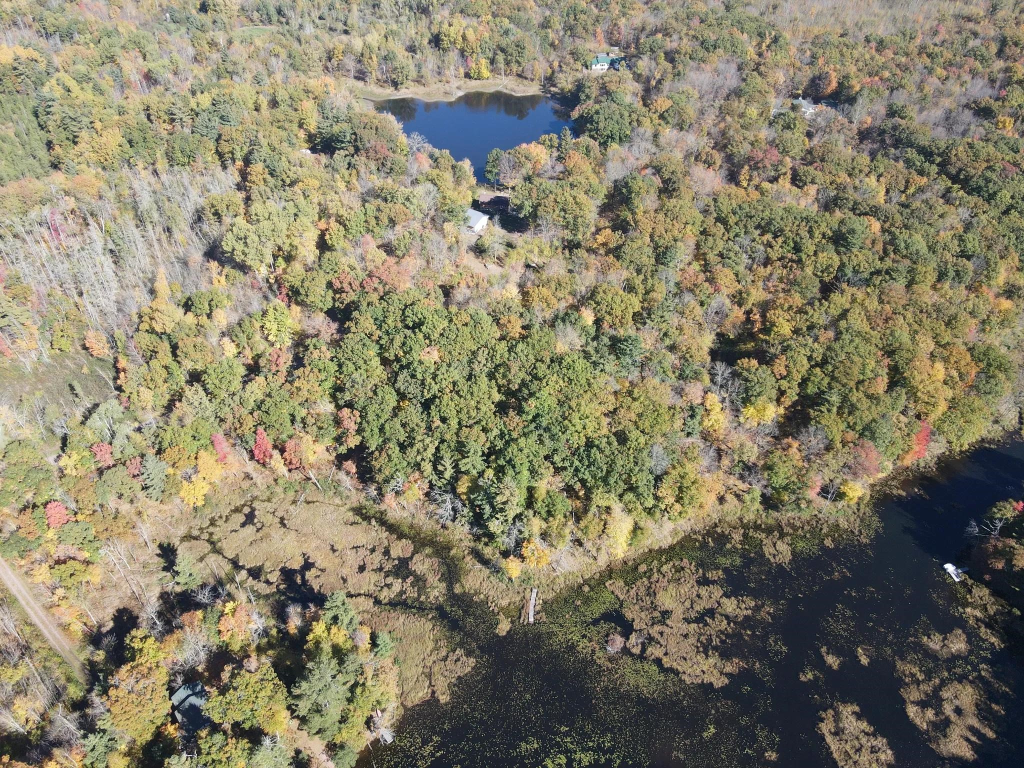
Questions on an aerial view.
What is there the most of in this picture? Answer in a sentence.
The largest share of the image is taken up by trees.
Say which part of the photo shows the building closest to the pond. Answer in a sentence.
The building closest to the pond is in the top part of the image.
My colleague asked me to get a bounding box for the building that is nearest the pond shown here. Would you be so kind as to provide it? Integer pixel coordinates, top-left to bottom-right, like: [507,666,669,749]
[479,193,512,215]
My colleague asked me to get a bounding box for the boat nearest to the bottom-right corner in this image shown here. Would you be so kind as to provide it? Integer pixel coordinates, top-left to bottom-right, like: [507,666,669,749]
[942,564,961,583]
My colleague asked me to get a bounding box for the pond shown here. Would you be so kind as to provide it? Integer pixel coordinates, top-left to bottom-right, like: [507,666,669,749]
[368,91,578,183]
